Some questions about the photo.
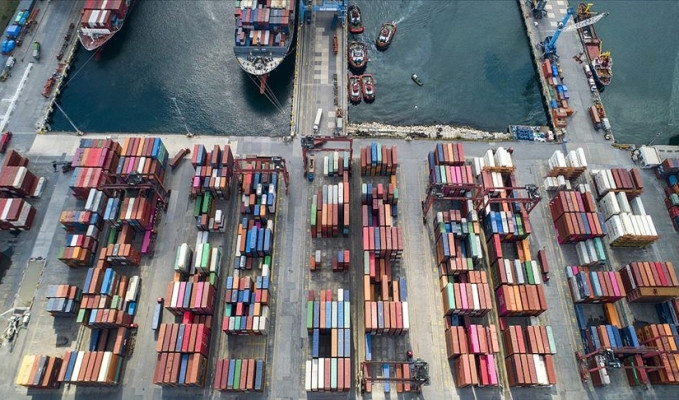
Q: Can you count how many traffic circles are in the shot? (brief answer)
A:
0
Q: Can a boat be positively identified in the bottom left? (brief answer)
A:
No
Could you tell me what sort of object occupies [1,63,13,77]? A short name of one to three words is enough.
vehicle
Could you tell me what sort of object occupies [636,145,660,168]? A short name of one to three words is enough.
shed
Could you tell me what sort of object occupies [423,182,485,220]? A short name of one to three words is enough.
container crane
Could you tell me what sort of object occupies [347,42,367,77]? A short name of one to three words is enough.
boat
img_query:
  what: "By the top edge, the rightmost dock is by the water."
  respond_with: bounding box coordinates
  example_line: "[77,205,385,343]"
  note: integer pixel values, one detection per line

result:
[517,0,614,143]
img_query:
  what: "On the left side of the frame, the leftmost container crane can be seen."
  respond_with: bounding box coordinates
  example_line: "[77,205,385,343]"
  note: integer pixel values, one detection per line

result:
[95,170,168,207]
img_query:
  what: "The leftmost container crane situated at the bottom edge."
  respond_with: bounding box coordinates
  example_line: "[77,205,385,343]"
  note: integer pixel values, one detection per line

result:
[358,356,432,393]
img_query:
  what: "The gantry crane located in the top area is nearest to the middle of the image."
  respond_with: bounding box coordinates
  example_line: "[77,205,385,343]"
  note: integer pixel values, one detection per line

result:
[300,135,353,172]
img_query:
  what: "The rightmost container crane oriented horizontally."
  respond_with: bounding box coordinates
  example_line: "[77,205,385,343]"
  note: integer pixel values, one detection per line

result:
[577,344,671,381]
